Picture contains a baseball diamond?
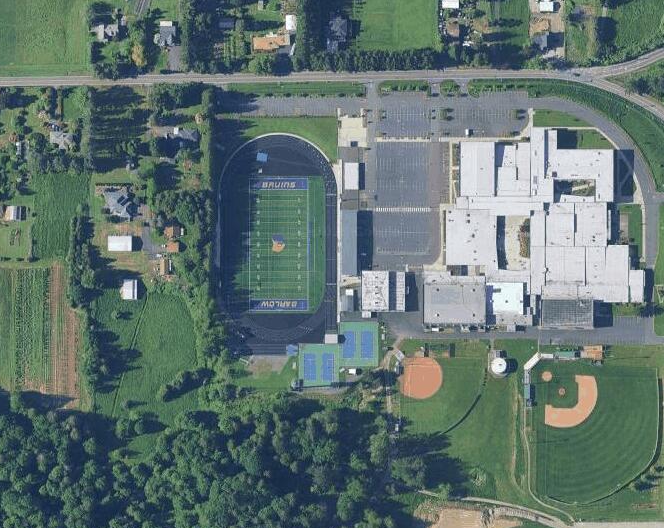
Yes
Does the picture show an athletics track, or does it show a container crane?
athletics track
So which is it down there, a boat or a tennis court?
tennis court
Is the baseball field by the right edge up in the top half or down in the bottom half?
bottom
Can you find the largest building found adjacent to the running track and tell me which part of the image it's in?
right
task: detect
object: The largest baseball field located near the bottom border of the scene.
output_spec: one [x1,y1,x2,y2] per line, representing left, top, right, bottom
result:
[531,360,657,503]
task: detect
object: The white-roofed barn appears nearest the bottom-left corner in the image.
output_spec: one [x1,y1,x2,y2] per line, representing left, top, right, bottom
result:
[121,279,137,300]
